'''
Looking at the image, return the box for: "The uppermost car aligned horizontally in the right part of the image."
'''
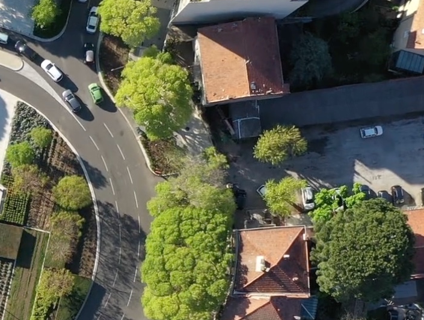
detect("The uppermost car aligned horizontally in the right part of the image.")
[357,124,383,137]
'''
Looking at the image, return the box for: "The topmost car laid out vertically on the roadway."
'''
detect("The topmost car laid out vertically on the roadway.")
[85,7,99,32]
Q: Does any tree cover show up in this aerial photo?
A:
Yes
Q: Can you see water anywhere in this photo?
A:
No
